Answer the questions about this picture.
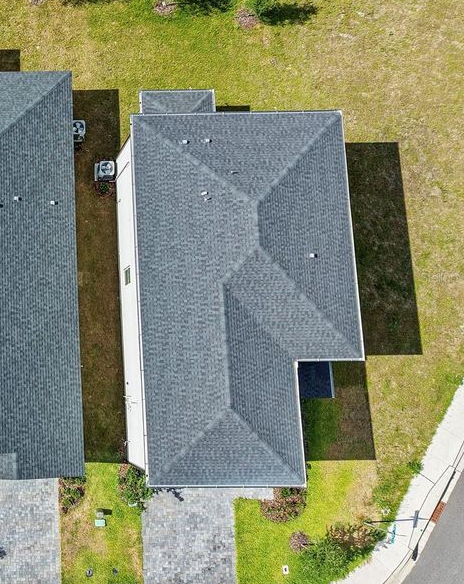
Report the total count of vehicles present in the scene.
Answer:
0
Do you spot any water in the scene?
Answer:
No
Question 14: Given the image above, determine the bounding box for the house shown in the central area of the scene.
[117,88,366,489]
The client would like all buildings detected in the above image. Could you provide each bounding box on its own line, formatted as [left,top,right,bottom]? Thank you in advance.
[117,88,366,489]
[0,71,84,481]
